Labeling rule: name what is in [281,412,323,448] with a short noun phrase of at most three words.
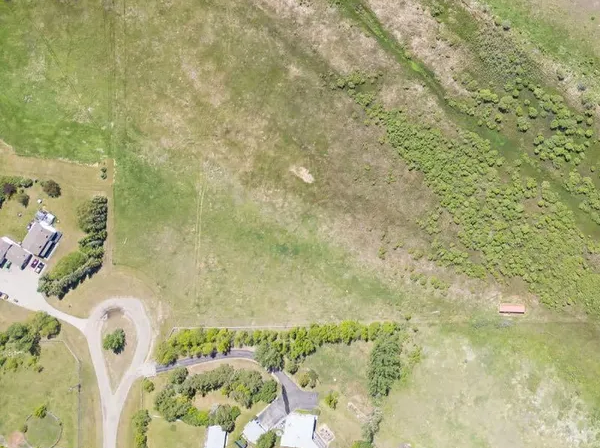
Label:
house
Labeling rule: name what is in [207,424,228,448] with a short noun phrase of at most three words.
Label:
shed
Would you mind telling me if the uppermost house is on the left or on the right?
left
